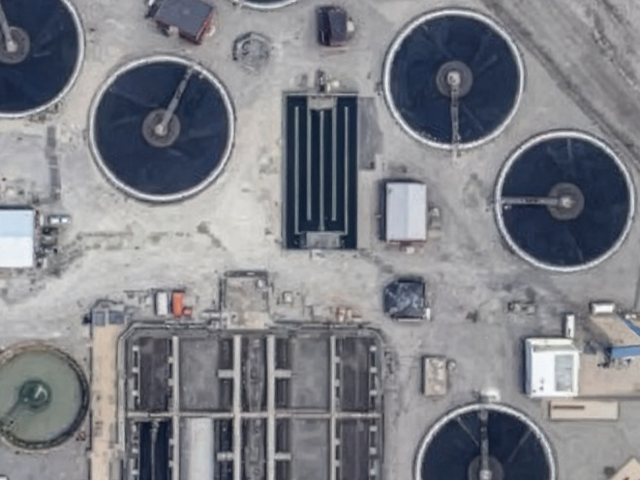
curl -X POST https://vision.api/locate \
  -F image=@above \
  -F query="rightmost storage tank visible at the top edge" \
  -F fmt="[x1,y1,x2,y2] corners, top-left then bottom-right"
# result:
[381,7,527,155]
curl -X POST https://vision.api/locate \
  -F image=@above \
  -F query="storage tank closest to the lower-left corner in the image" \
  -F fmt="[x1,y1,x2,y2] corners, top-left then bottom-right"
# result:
[0,342,92,452]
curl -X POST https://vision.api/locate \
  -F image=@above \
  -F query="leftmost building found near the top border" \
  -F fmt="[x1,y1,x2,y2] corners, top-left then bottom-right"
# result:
[149,0,217,40]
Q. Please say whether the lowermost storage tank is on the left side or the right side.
right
